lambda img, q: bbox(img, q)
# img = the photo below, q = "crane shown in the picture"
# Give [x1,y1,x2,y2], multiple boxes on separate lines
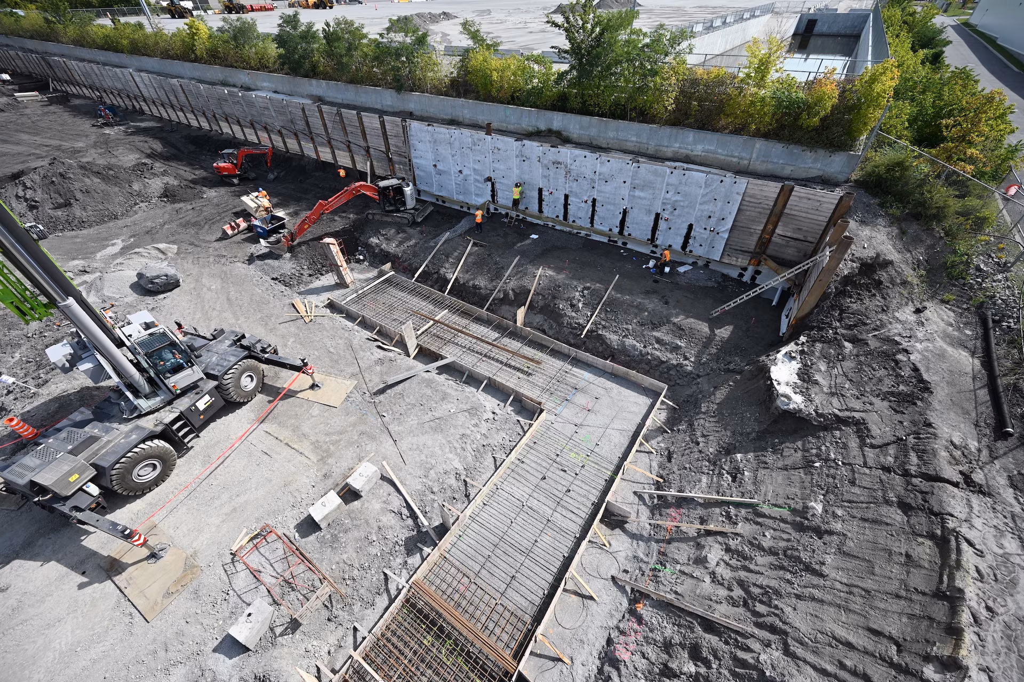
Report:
[0,201,324,570]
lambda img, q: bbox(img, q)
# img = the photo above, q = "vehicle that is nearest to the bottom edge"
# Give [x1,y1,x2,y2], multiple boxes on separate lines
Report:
[258,175,436,255]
